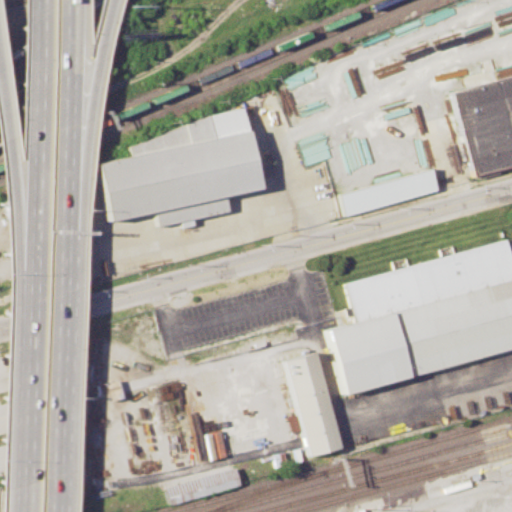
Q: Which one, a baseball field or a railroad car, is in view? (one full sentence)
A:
It is a railroad car that can be seen here.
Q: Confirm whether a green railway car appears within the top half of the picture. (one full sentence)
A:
Yes, the scene does show a green railway car within the top half of the picture.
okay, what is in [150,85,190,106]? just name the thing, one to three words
rail car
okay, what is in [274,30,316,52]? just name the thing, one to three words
rail car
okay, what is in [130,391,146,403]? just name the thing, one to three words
vehicle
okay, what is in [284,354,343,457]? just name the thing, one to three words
shed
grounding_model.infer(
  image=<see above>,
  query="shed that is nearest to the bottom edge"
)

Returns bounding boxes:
[164,470,242,505]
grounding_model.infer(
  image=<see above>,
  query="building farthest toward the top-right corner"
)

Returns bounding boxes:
[452,78,512,176]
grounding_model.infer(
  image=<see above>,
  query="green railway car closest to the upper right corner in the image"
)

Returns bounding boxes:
[321,12,362,31]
